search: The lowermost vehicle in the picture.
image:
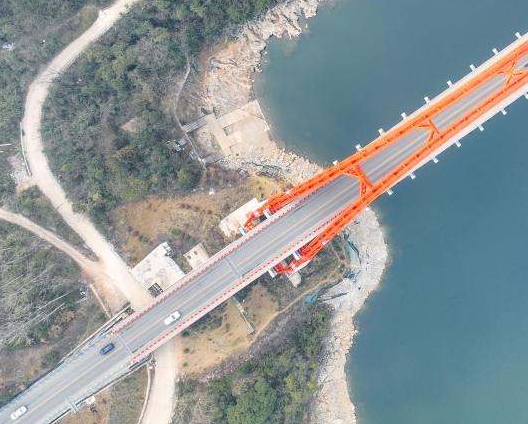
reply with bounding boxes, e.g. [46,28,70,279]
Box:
[7,405,27,422]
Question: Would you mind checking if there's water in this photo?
Yes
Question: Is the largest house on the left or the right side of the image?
left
